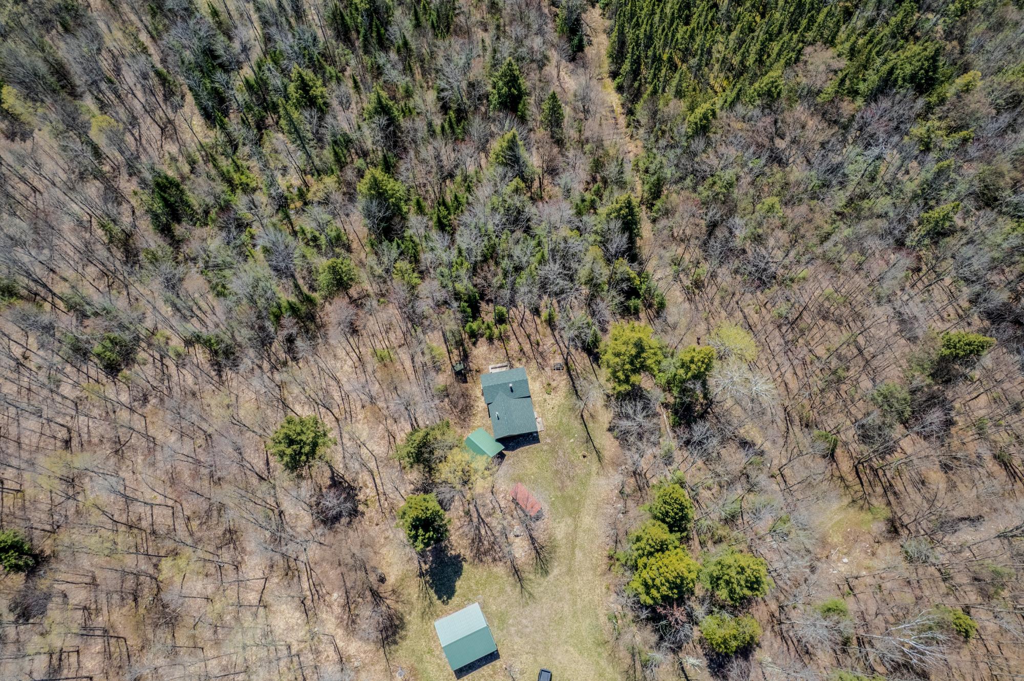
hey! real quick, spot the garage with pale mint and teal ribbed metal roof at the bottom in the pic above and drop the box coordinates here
[434,602,497,672]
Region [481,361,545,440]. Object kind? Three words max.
building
